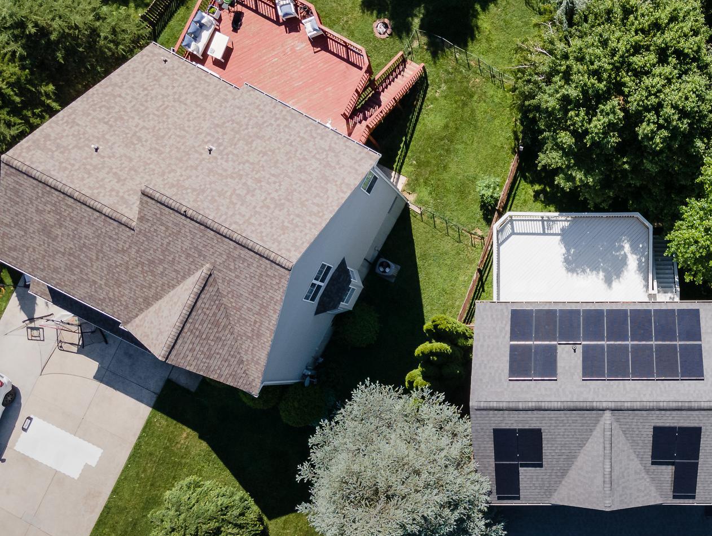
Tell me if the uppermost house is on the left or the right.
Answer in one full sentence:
You can find the uppermost house on the left side of the picture.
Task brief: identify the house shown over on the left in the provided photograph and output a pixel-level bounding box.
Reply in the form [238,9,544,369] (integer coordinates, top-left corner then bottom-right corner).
[0,42,414,397]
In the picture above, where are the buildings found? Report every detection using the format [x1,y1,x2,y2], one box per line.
[0,42,414,397]
[469,299,712,536]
